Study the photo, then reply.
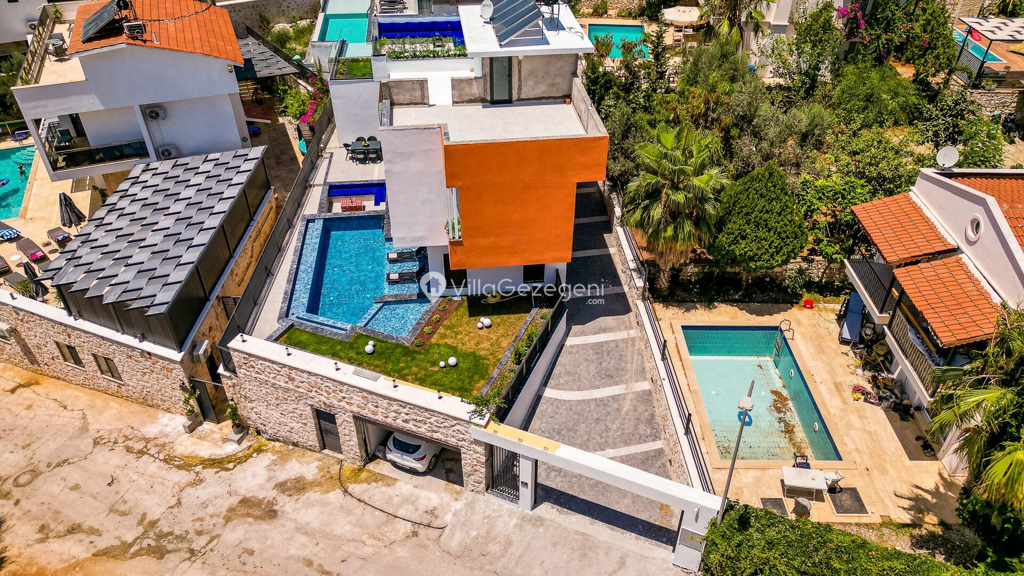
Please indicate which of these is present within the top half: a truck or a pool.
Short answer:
pool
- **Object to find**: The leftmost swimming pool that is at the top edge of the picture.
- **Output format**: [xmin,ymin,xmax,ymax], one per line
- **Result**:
[307,0,374,127]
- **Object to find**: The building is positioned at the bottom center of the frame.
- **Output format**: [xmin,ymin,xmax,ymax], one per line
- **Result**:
[351,362,505,494]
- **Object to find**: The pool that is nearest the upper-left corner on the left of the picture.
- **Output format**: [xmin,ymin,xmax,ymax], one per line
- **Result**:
[0,140,39,223]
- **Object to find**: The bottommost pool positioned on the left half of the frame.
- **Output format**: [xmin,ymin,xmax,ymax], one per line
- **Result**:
[265,204,443,370]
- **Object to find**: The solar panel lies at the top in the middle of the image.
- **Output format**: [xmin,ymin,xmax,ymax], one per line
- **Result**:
[483,0,543,46]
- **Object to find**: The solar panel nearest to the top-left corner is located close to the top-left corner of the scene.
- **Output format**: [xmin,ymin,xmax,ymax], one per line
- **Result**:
[84,5,122,60]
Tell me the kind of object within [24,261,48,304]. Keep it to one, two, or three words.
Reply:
umbrella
